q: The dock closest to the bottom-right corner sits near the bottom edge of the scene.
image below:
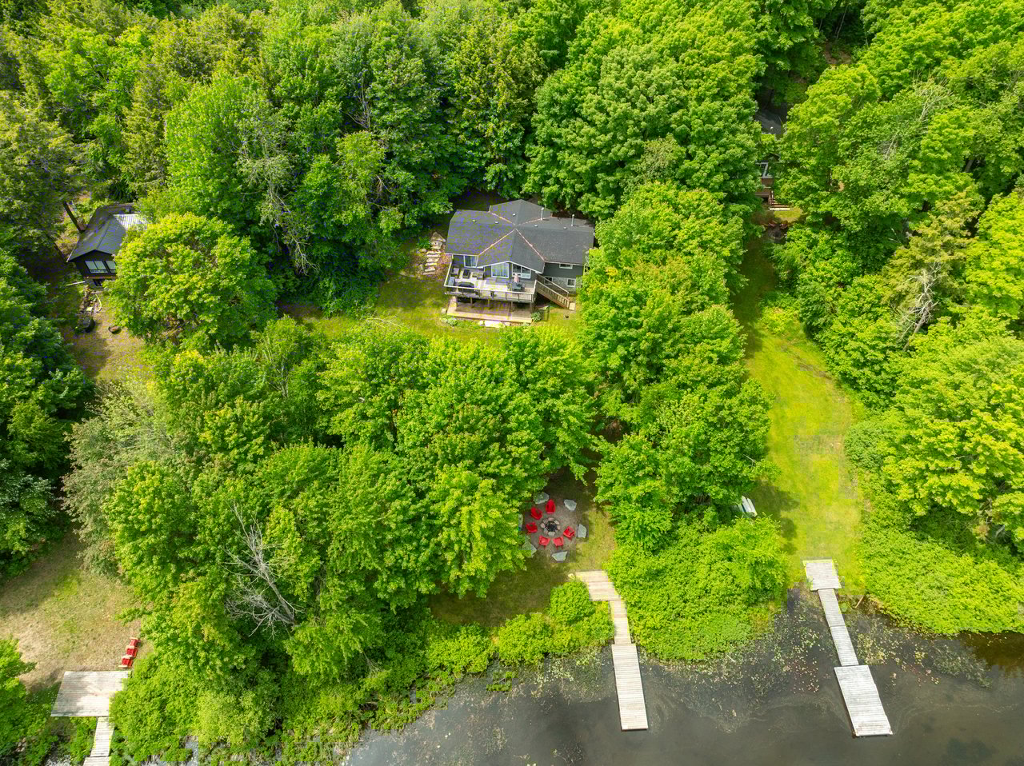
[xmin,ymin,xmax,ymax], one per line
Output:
[832,664,893,739]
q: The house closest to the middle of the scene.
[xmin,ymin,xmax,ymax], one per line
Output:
[445,197,596,304]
